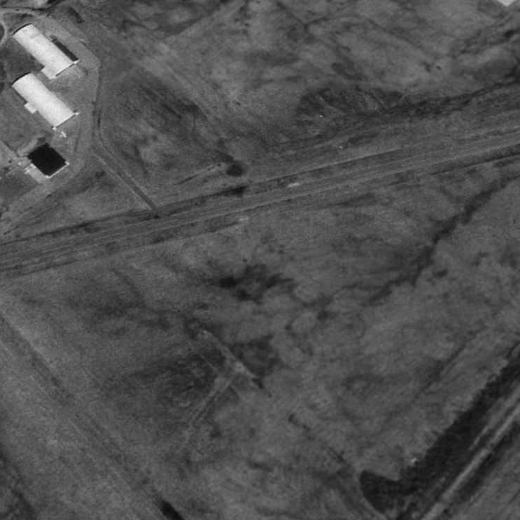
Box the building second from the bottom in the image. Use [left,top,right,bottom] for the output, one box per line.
[11,73,78,131]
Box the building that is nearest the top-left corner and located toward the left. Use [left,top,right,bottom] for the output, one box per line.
[12,24,79,80]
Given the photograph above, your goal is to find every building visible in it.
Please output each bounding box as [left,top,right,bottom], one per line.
[12,24,79,80]
[28,142,71,181]
[11,73,78,131]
